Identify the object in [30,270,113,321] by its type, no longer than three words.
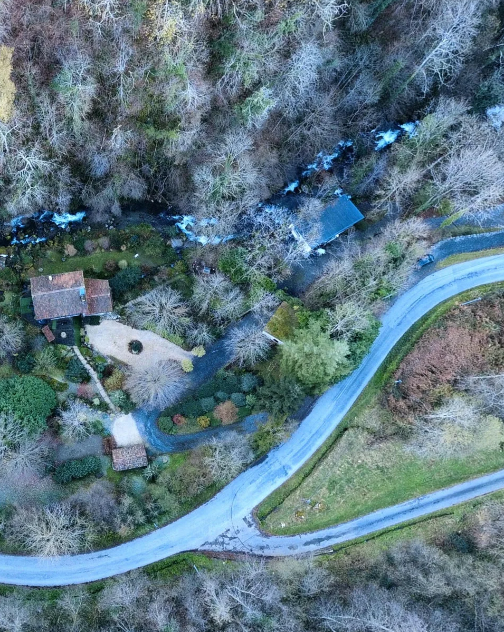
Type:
house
